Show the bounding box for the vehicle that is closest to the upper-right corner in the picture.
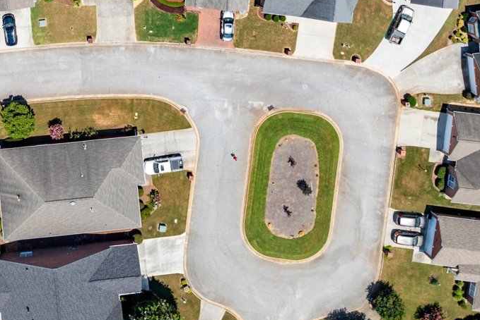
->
[385,2,415,45]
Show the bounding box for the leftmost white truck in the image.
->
[143,153,185,175]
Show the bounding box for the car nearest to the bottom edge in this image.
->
[390,230,425,249]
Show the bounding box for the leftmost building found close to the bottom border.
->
[0,238,141,320]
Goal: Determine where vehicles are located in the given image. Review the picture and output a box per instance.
[143,153,185,175]
[391,211,426,231]
[1,14,18,47]
[385,2,415,45]
[390,230,425,249]
[220,11,236,43]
